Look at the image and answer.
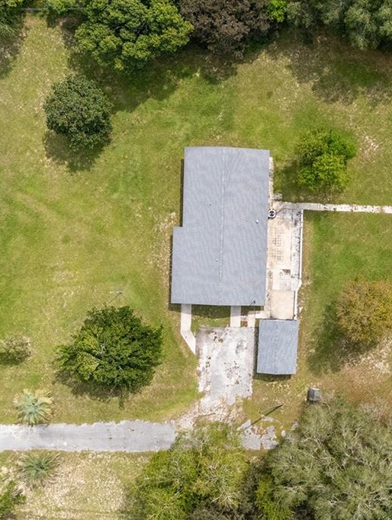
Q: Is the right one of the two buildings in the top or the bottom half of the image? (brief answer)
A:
bottom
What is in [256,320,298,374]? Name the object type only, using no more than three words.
building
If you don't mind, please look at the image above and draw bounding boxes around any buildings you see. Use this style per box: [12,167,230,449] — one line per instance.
[169,147,269,307]
[256,320,298,374]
